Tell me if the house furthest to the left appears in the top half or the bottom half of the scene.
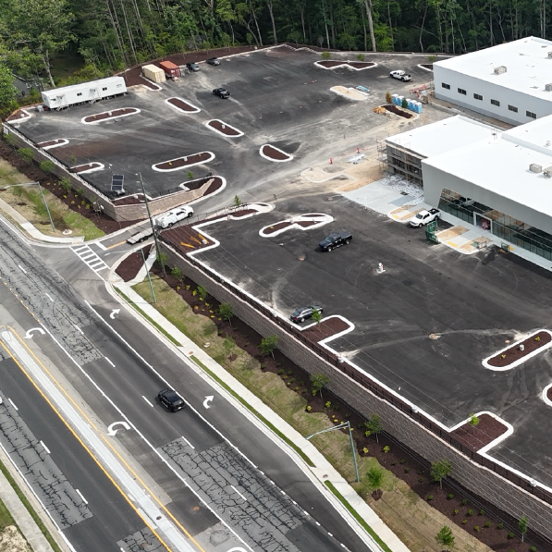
top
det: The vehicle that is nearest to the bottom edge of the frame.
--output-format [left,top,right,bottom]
[158,385,184,408]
